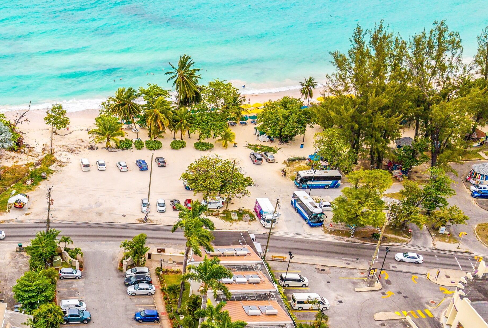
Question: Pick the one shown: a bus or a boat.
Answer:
bus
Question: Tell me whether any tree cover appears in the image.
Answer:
Yes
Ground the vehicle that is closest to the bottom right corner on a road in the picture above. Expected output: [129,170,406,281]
[394,252,424,264]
